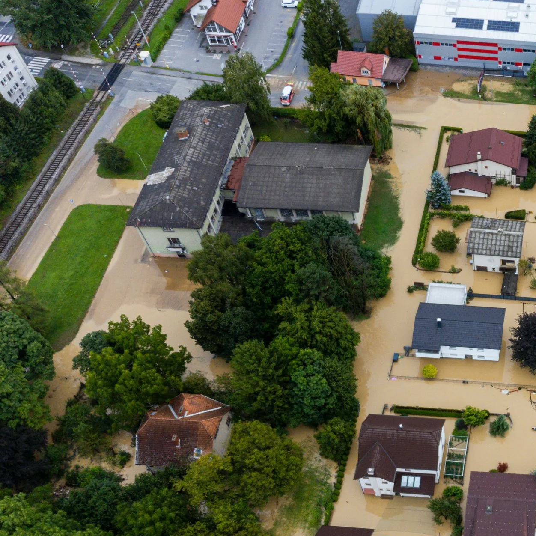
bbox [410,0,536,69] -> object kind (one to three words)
building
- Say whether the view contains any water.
Yes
